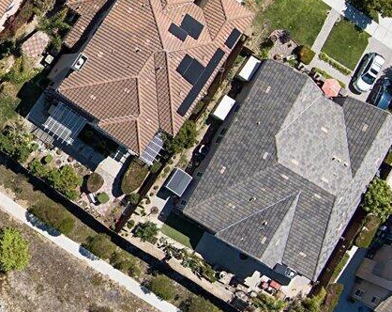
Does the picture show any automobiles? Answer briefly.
Yes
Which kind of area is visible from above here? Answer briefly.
residential area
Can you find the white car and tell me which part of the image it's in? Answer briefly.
top right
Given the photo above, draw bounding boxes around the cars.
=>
[364,68,392,109]
[350,46,391,95]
